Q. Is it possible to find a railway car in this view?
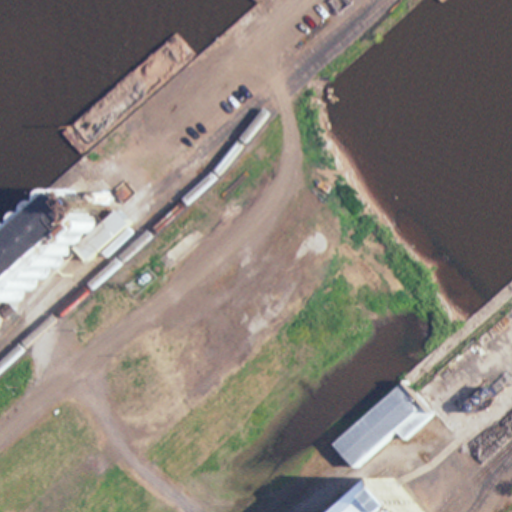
Yes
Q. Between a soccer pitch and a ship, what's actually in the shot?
ship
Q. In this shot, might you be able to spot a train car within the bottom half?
Yes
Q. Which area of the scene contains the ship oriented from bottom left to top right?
top left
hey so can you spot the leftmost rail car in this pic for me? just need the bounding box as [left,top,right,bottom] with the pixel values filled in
[0,346,24,375]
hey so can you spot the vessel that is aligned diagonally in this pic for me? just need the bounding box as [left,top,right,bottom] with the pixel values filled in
[62,33,194,154]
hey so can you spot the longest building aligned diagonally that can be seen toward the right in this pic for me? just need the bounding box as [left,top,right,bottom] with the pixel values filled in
[332,387,420,468]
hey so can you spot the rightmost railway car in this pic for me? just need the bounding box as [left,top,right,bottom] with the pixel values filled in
[240,104,274,140]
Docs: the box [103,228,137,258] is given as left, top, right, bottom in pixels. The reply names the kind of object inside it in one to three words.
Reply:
rail car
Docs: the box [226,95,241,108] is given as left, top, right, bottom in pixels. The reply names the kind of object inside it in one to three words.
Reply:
vehicle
